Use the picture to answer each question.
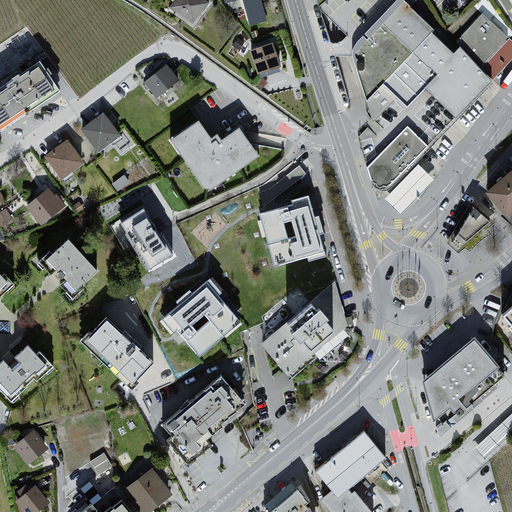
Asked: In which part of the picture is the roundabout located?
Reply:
right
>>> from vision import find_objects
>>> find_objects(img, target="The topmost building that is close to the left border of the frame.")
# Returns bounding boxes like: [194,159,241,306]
[0,62,60,132]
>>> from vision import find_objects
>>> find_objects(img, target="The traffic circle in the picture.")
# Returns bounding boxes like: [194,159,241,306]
[371,250,446,325]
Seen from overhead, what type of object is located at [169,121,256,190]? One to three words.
building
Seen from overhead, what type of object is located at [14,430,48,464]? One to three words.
house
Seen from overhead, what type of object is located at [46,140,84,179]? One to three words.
house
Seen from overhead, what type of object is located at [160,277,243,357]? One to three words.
building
